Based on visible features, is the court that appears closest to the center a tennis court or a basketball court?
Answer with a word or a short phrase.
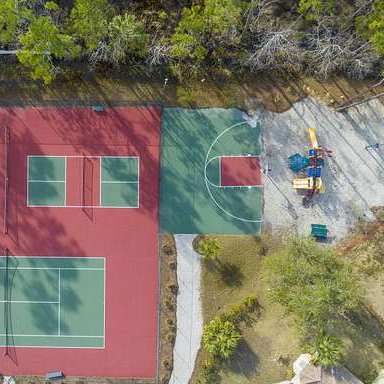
basketball court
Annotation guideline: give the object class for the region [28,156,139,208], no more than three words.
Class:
sports court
